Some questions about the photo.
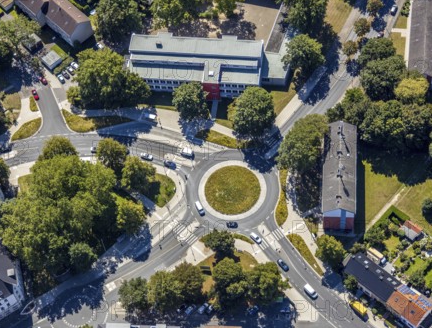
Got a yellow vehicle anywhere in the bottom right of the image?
Yes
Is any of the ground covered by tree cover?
Yes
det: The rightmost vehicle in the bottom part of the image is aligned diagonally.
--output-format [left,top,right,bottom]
[366,244,386,264]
